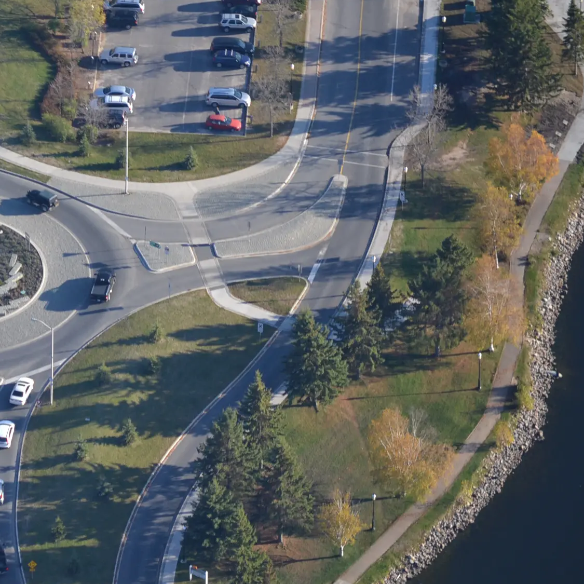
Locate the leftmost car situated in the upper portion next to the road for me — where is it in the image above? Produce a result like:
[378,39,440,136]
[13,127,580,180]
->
[22,185,62,209]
